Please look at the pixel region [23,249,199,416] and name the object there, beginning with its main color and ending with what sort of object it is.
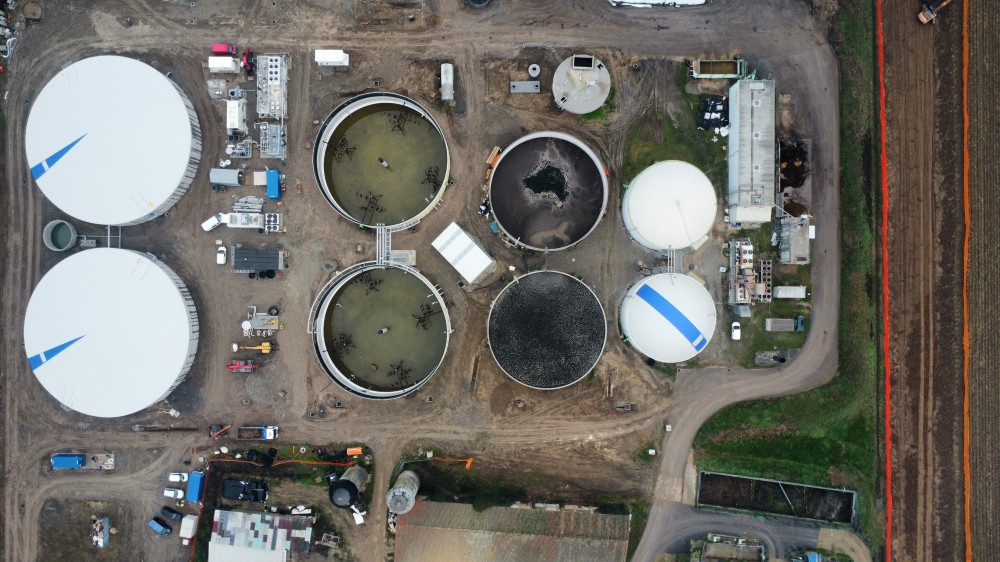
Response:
white storage tank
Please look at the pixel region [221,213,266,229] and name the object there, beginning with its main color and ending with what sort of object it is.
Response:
white trailer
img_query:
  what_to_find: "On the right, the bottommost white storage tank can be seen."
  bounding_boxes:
[620,273,717,364]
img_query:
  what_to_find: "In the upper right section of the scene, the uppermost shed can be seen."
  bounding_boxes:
[729,79,791,224]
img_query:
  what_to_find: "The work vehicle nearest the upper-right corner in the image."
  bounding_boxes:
[921,0,949,22]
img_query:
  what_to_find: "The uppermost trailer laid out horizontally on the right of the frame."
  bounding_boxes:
[685,55,745,80]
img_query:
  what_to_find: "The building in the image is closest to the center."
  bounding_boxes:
[432,222,492,282]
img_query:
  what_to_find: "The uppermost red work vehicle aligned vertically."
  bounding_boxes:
[241,48,254,75]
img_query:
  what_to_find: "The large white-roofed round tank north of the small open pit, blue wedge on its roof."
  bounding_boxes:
[24,56,200,225]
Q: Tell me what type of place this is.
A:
industrial area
